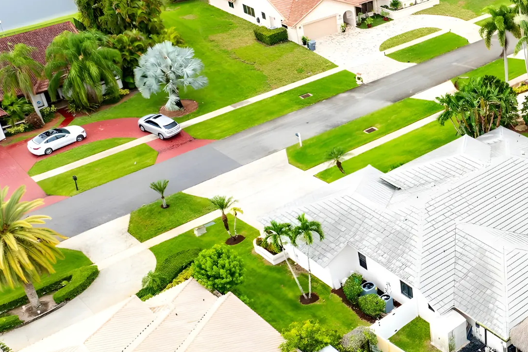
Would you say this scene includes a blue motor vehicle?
No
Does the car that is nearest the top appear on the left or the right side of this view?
left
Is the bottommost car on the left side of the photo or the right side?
left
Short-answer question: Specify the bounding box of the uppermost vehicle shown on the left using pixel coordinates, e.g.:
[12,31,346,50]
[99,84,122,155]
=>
[137,112,180,137]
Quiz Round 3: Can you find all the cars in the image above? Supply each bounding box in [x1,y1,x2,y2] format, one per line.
[137,112,180,137]
[24,128,84,153]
